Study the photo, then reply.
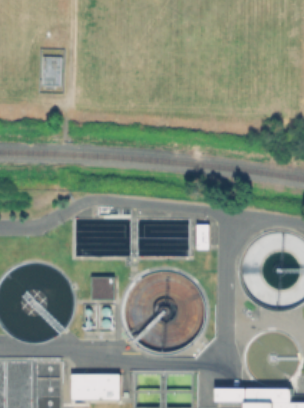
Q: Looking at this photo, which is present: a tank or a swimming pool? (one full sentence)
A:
The one in the frame is a tank.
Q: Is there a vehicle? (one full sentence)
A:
No, the photo shows no vehicle.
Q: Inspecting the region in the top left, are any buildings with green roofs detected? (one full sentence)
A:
No, I see no building with a green roof in the top left.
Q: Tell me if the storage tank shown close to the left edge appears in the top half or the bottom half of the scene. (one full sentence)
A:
The storage tank shown close to the left edge sits in the bottom half of the picture.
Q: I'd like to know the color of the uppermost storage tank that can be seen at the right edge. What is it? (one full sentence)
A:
The uppermost storage tank that can be seen at the right edge is white.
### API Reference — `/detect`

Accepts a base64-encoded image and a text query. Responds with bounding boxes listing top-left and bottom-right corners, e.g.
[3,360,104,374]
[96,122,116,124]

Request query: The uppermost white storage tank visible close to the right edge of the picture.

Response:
[240,230,304,310]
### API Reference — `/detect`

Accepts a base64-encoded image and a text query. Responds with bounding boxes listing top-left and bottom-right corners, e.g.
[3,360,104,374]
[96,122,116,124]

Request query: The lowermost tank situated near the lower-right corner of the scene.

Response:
[244,328,304,388]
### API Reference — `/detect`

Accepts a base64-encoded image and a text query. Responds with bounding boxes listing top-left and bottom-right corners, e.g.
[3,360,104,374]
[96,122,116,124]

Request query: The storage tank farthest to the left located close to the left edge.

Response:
[0,262,78,344]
